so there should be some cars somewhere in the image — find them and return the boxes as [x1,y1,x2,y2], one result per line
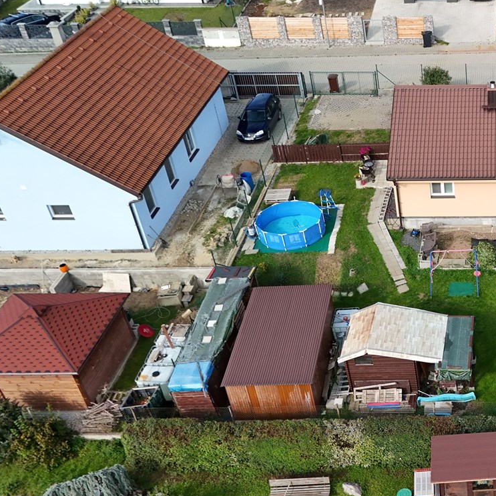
[232,90,281,138]
[0,3,57,26]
